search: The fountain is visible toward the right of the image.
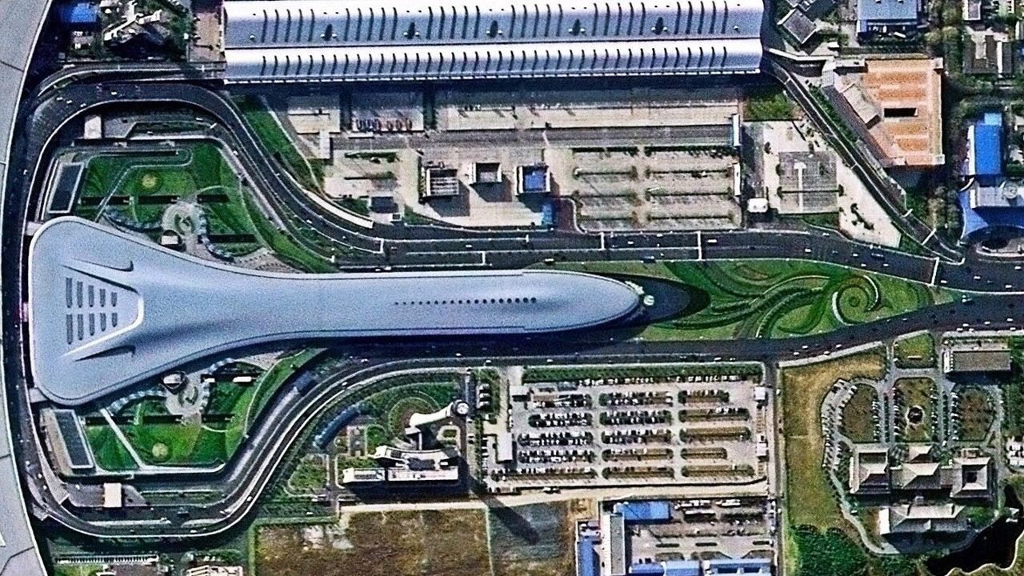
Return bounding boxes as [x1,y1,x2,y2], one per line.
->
[907,406,924,424]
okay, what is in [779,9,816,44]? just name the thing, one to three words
house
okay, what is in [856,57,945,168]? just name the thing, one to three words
building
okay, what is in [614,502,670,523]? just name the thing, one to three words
shed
